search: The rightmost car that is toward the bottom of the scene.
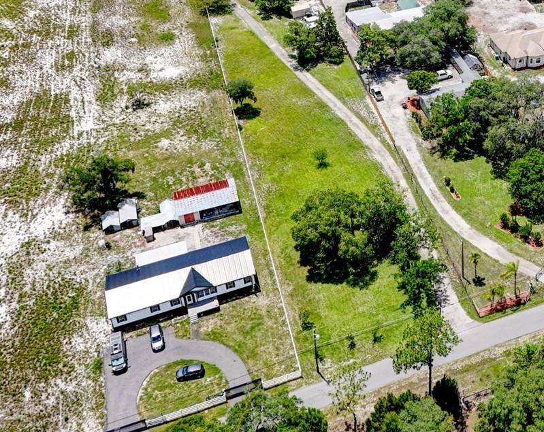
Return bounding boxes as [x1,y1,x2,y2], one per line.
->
[174,361,208,382]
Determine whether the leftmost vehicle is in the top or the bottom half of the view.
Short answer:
bottom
